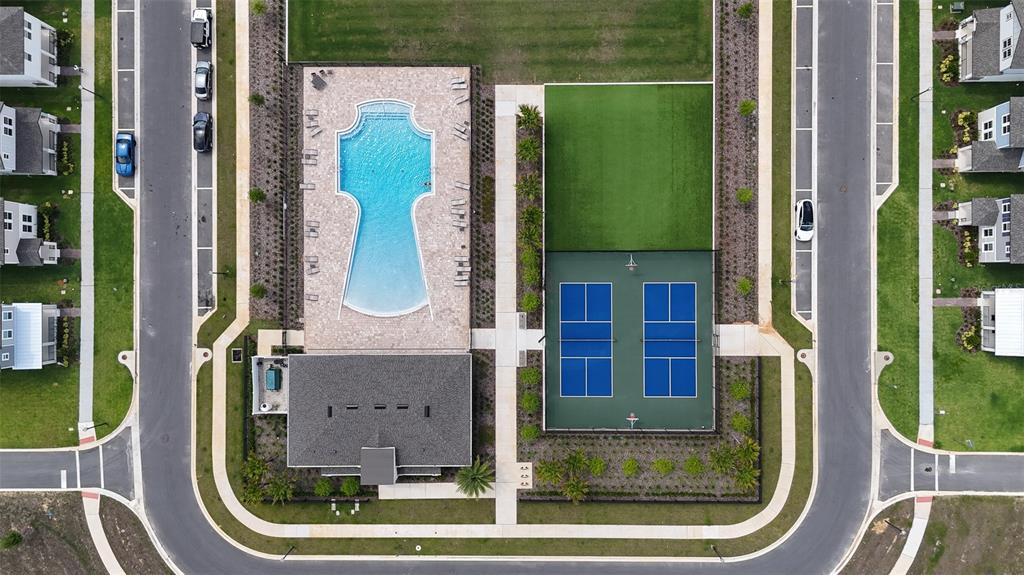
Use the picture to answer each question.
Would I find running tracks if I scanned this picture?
No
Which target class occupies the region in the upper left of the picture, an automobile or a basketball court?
automobile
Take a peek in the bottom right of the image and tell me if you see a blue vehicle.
No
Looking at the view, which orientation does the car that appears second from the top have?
from top to bottom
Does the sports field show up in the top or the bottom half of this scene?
top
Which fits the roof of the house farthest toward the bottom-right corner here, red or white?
white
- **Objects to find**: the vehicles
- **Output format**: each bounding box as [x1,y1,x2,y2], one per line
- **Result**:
[193,62,213,102]
[113,134,136,177]
[191,9,213,51]
[192,113,213,153]
[795,200,816,241]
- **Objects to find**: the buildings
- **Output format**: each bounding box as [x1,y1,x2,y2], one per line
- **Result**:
[977,288,1024,357]
[956,98,1024,173]
[0,304,60,375]
[0,101,60,176]
[0,197,60,267]
[957,2,1024,82]
[286,352,473,485]
[0,7,60,86]
[948,191,1024,263]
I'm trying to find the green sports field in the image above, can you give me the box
[545,83,713,249]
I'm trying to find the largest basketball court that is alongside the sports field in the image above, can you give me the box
[545,250,713,428]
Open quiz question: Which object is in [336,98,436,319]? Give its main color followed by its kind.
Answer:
blue swimming pool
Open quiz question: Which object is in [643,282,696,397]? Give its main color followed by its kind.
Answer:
blue sports court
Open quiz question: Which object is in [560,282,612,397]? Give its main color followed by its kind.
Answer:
blue sports court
